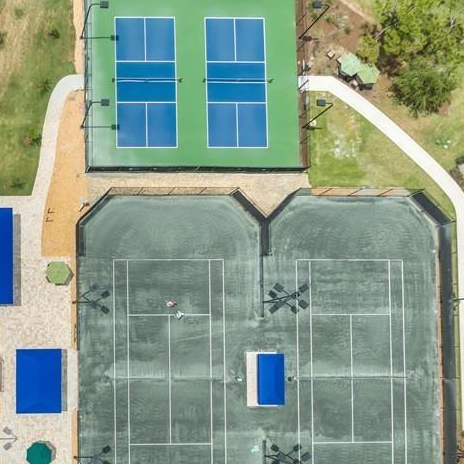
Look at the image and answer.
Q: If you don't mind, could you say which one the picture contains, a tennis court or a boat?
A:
tennis court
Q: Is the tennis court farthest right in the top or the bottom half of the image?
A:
bottom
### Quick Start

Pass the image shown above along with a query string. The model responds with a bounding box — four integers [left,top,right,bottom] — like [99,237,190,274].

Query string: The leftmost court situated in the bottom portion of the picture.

[78,195,263,464]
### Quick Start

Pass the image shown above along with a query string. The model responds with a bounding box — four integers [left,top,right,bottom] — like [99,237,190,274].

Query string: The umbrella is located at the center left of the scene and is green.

[45,260,71,285]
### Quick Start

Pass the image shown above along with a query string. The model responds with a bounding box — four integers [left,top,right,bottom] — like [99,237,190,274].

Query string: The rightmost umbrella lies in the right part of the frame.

[354,62,380,86]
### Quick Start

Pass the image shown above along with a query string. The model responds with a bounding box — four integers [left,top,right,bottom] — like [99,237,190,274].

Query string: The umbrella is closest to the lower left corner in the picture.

[27,441,52,464]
